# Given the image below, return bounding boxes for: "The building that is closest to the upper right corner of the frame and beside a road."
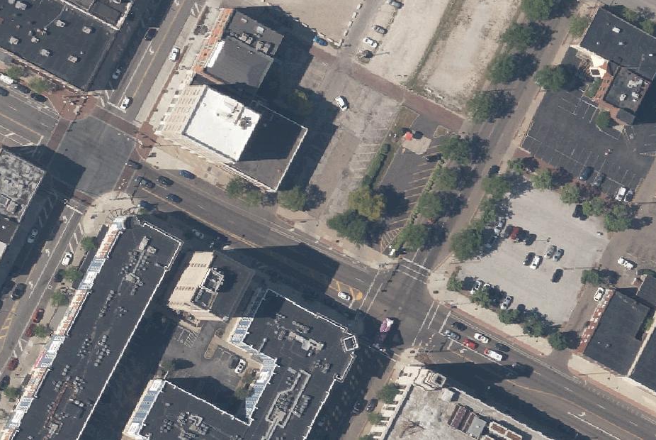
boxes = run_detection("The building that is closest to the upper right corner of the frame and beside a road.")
[573,8,656,120]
